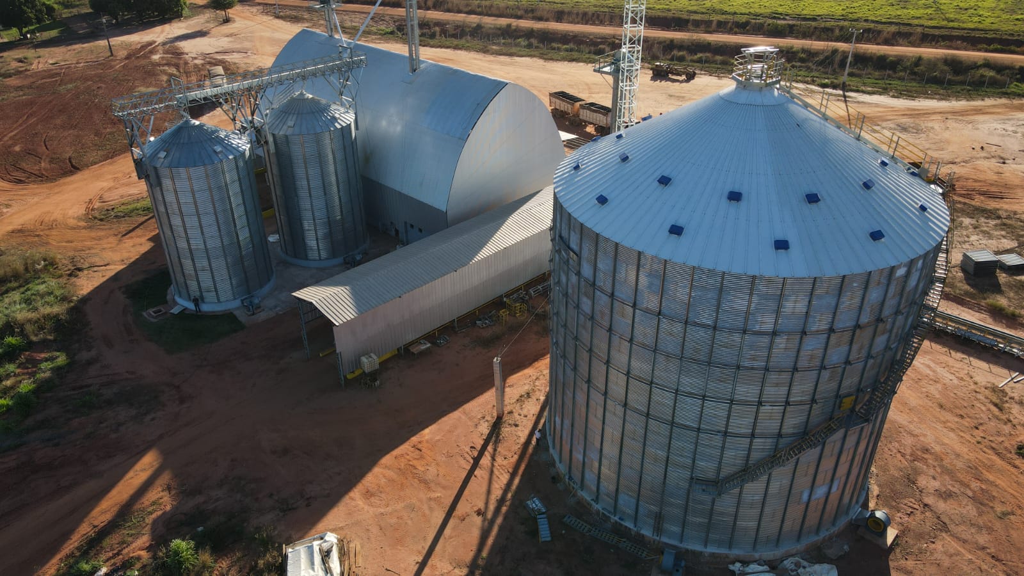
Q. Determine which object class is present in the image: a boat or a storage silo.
storage silo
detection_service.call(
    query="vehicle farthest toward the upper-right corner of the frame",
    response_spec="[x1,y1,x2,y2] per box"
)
[653,60,701,80]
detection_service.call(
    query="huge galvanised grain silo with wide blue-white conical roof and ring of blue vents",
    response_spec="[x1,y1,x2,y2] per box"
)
[541,49,962,566]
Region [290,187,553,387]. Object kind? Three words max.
shed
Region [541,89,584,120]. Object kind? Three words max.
trailer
